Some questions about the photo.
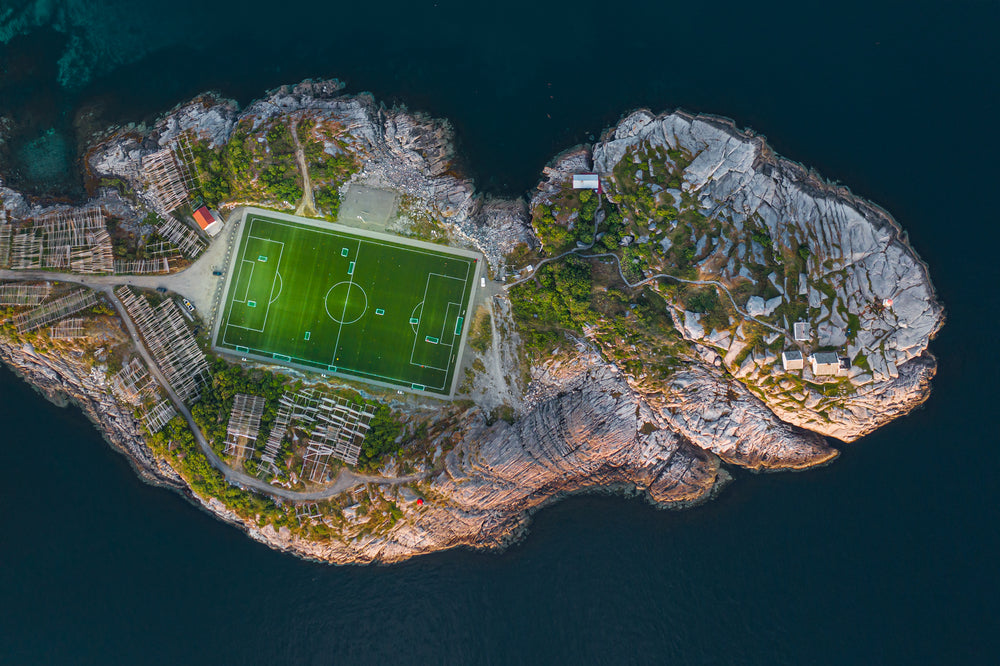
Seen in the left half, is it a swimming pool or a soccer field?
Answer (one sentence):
What appears in the left half is a soccer field.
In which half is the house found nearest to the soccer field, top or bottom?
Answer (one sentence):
Seen from above, the house found nearest to the soccer field lies in the top half of the view.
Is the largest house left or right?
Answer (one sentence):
It is on the right.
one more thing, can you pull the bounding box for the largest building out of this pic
[808,353,850,375]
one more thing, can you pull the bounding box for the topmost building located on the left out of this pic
[194,207,218,229]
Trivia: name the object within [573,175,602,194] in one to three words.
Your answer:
shed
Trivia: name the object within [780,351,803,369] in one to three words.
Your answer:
house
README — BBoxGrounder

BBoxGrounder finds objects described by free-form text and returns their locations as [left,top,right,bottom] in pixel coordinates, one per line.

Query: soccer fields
[212,207,483,399]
